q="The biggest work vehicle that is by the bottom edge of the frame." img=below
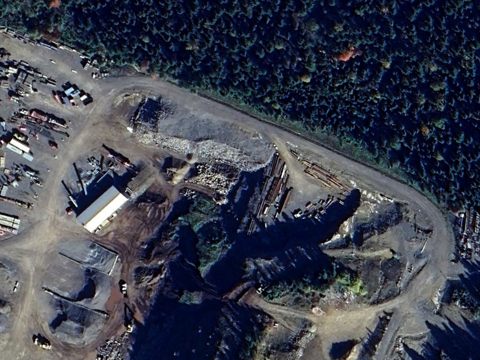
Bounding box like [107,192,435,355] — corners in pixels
[31,335,50,349]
